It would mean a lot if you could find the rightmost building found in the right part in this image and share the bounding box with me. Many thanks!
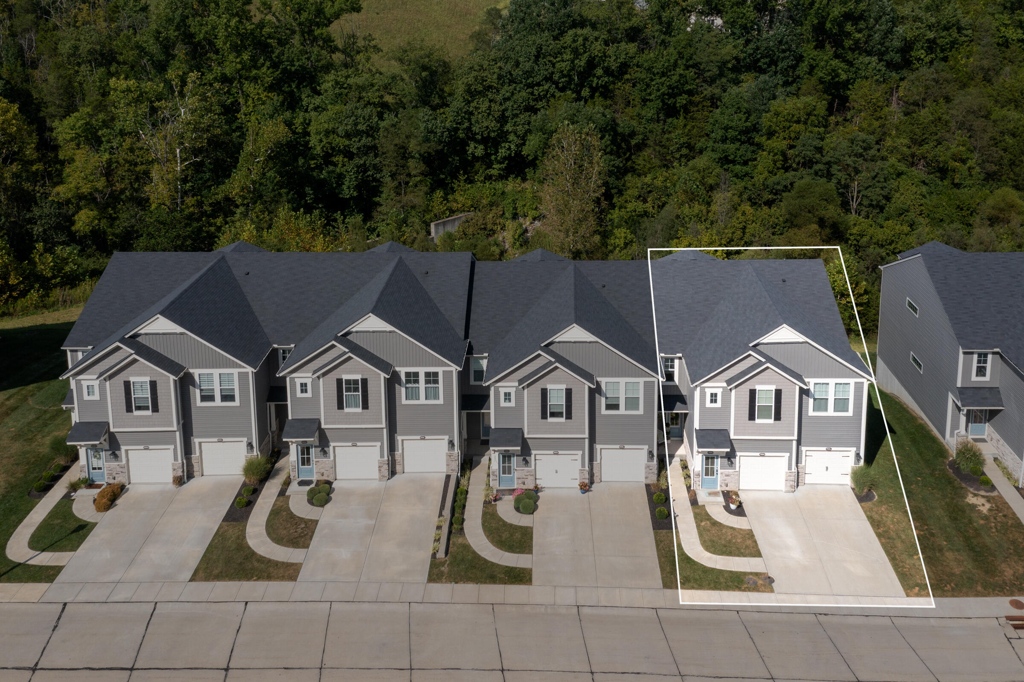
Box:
[884,240,1024,495]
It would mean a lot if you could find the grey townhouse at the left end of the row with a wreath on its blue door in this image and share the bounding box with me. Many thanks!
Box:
[61,241,294,501]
